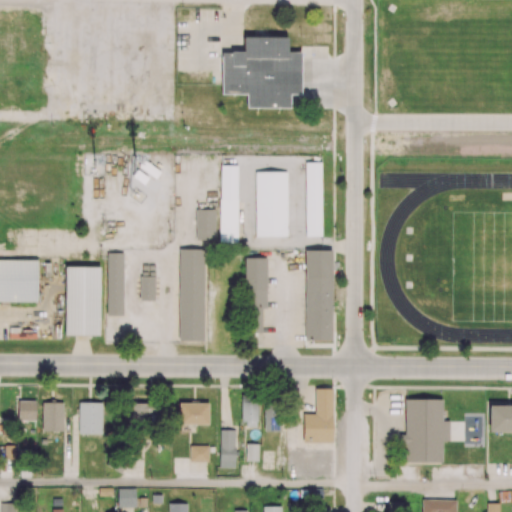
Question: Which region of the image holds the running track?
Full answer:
The running track is in the right part of the image.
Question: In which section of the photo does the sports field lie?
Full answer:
You can find the sports field in the right area of the picture.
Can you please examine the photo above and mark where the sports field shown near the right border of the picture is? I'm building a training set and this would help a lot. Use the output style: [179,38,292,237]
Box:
[453,212,512,322]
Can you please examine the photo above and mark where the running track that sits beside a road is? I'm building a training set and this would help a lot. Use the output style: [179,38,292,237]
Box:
[381,174,512,342]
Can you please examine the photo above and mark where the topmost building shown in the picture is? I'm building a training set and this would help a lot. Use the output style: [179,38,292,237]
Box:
[223,36,303,108]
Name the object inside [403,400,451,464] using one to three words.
building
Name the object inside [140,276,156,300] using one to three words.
shed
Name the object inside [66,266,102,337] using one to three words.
barn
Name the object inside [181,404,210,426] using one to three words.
house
